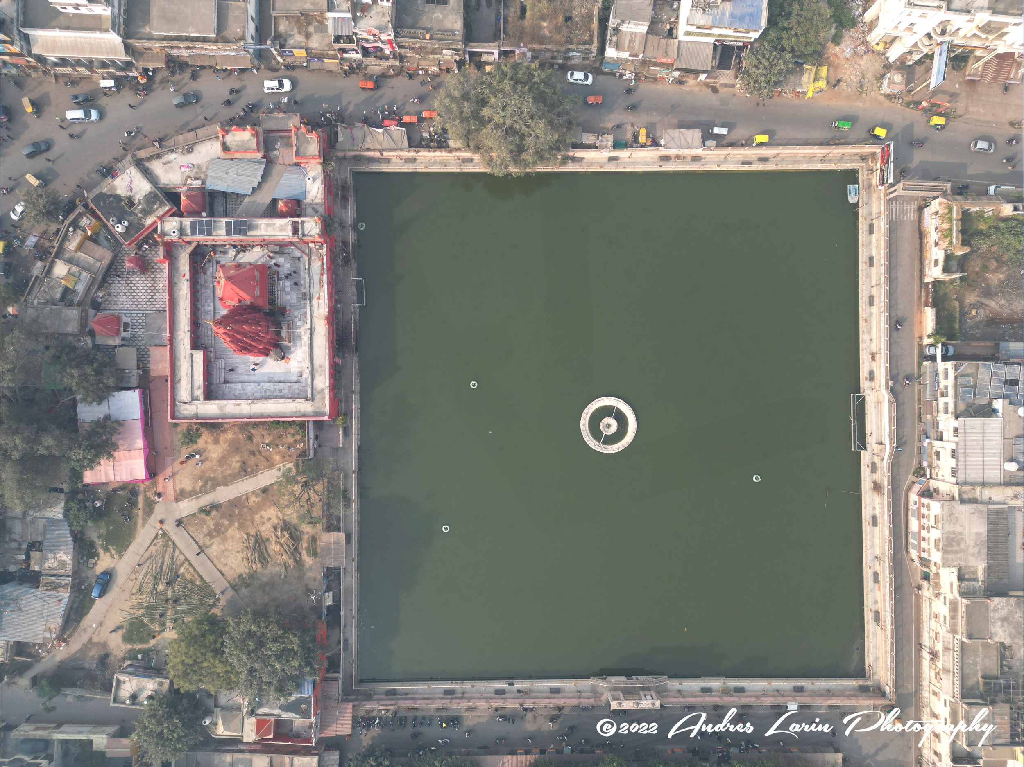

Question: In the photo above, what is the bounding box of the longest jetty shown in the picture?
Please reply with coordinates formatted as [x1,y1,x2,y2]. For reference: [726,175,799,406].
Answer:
[590,672,669,693]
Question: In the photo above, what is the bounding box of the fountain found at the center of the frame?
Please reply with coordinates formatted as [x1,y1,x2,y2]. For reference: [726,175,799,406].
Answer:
[580,397,637,453]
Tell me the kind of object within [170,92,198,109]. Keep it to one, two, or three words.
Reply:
car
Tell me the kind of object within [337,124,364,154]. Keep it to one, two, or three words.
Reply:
tent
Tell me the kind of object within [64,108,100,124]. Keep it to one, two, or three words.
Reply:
vehicle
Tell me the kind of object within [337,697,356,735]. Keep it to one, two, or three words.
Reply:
shed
